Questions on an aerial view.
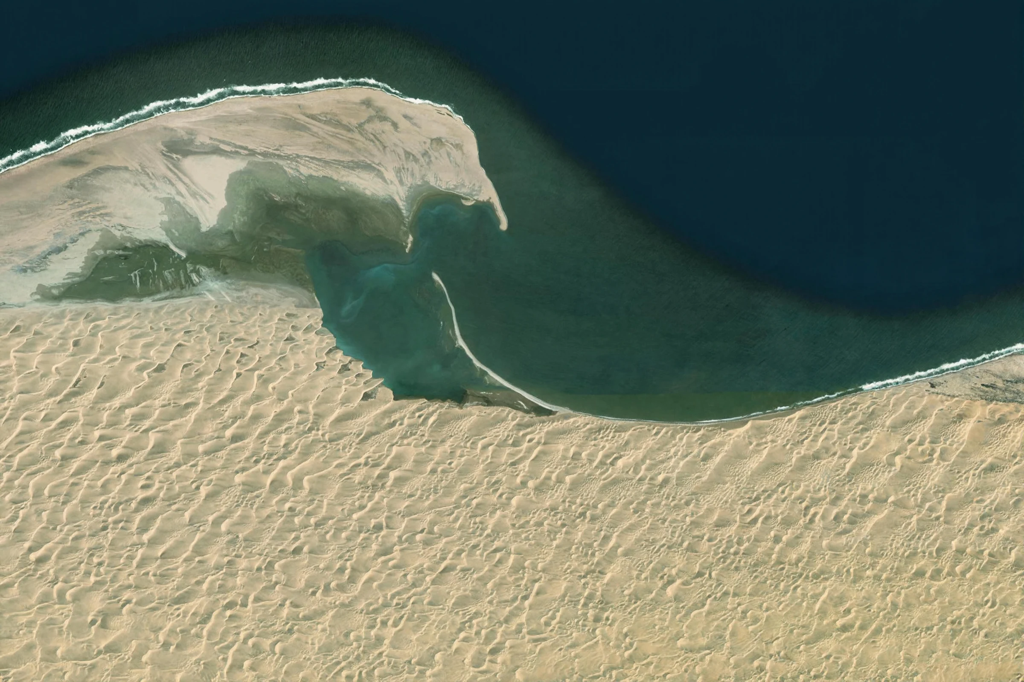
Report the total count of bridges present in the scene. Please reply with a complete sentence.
I count no bridges.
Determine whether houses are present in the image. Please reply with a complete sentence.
No, no house can be seen from above.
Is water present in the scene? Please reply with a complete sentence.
Yes, the picture does contain water.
